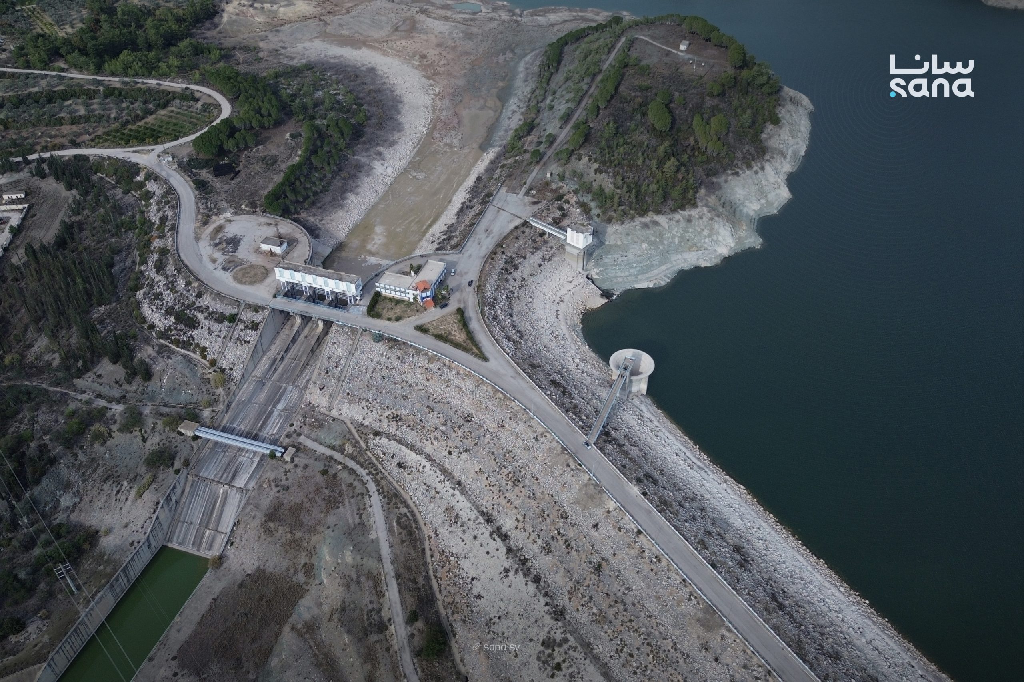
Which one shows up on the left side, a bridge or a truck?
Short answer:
bridge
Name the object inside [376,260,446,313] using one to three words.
building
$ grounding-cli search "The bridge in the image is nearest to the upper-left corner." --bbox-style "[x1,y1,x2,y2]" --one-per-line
[265,297,346,338]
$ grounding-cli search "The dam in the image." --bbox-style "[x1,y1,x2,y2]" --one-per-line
[303,199,823,682]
